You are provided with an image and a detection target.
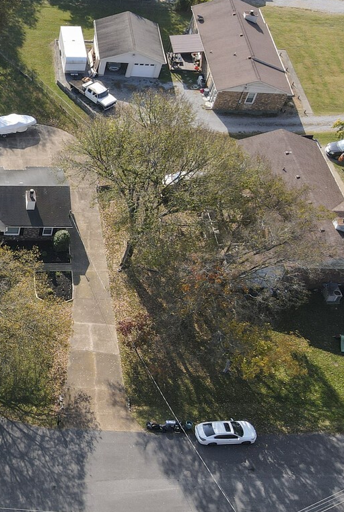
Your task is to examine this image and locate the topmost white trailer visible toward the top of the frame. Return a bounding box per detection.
[57,26,87,75]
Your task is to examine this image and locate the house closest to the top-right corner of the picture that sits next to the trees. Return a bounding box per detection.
[189,0,295,112]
